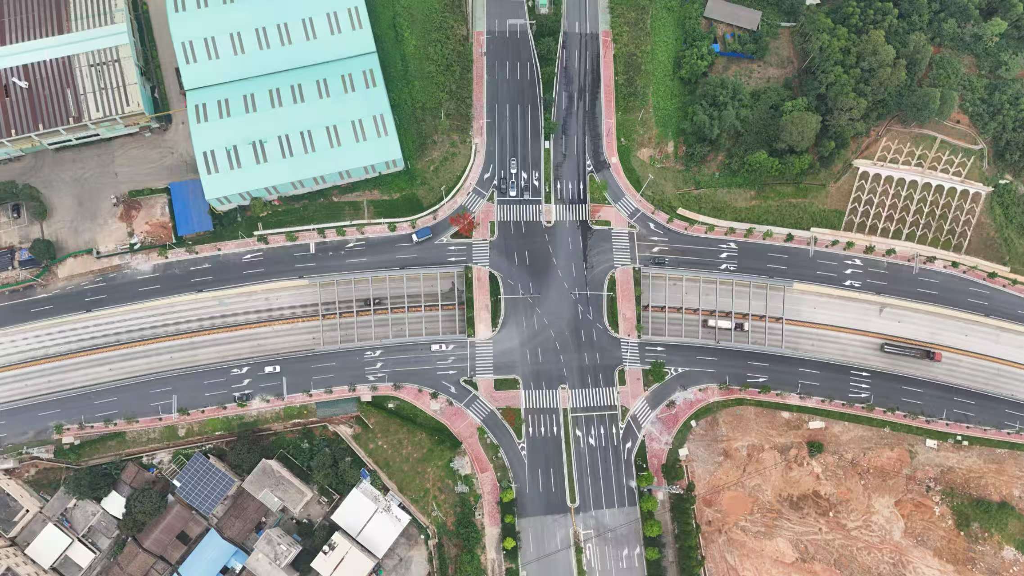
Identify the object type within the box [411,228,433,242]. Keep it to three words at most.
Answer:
vehicle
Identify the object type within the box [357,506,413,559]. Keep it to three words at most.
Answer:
building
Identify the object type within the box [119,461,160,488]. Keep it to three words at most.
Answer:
house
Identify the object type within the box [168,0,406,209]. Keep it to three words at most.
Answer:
warehouse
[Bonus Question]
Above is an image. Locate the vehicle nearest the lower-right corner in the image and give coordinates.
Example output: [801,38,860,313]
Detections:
[879,343,943,362]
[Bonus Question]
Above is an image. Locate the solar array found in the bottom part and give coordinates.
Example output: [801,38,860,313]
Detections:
[175,451,240,517]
